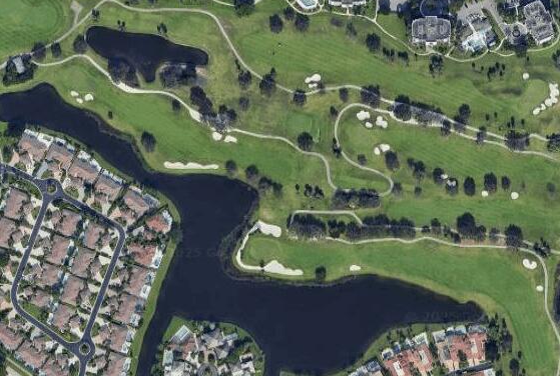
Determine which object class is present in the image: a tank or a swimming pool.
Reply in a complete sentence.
It is a swimming pool that can be seen here.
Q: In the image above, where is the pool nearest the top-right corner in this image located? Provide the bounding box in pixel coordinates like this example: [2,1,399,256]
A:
[463,32,491,57]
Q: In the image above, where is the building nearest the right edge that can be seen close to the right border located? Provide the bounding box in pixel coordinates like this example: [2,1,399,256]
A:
[523,3,558,45]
